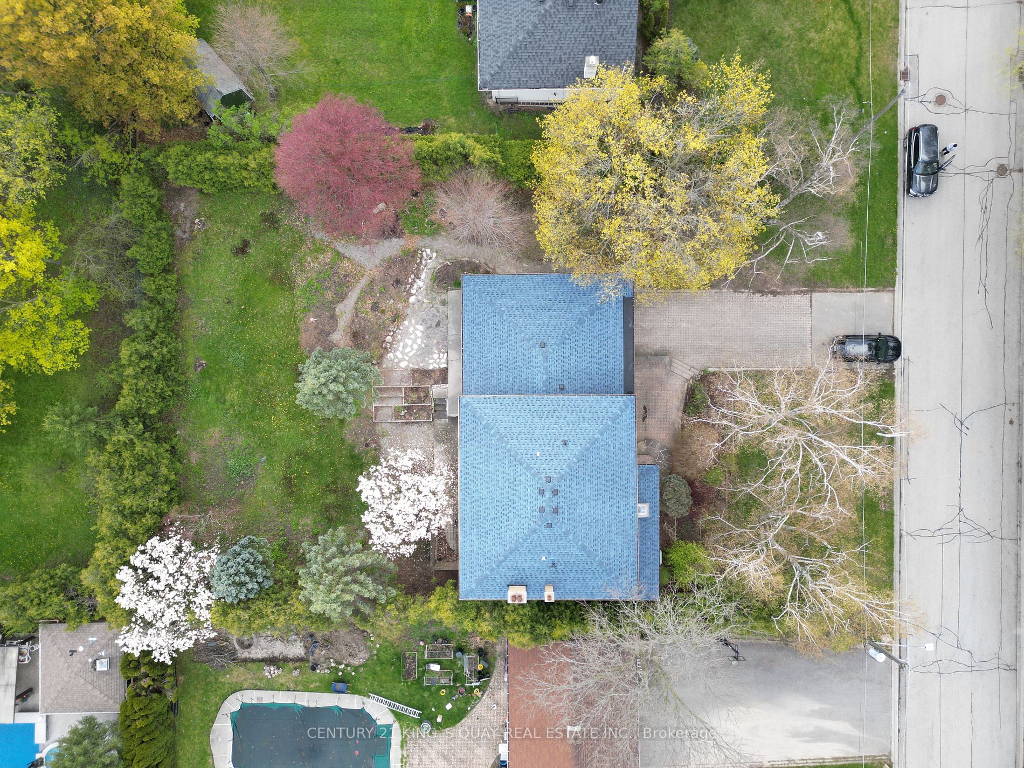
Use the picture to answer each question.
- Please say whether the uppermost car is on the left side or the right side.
right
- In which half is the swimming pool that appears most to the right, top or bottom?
bottom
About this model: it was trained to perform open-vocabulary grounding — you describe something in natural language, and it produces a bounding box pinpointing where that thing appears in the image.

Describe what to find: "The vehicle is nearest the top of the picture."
[901,119,955,194]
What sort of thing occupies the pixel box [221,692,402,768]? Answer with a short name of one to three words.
swimming pool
